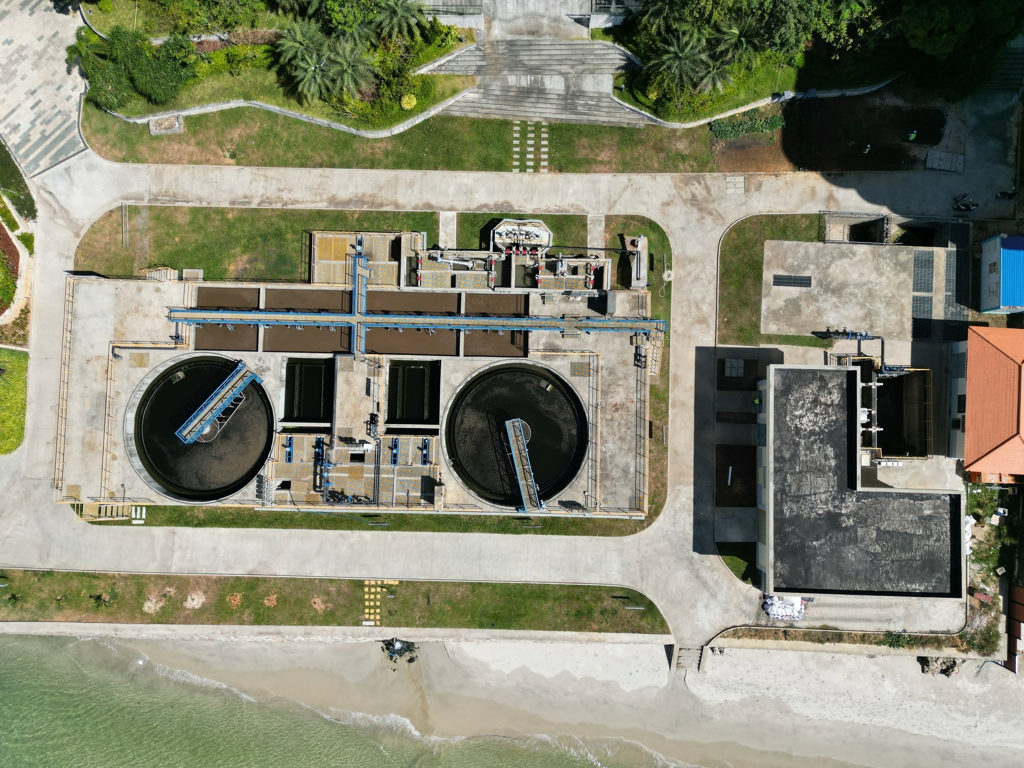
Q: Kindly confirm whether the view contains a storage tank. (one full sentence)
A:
Yes, a storage tank appears in the view.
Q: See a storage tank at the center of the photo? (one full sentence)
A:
Yes, there is a storage tank at the center of the photo.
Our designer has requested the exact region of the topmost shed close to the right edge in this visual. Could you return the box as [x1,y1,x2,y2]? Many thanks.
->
[980,234,1024,313]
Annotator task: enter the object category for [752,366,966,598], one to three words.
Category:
building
